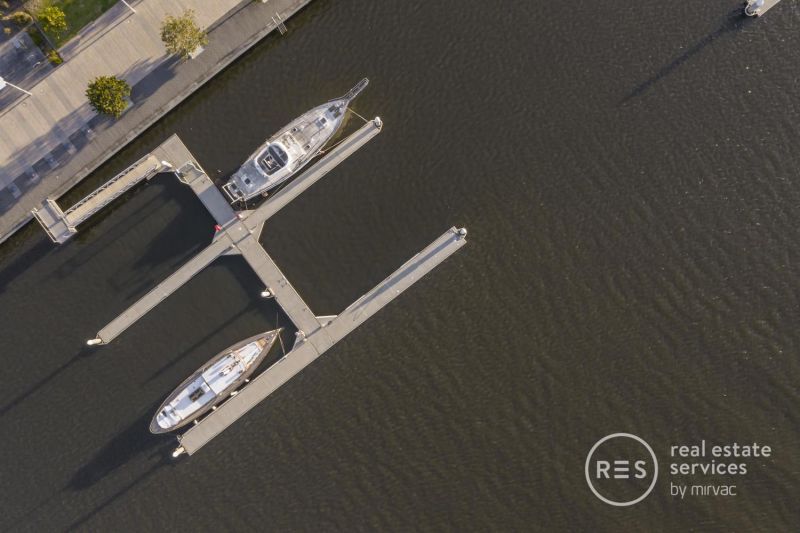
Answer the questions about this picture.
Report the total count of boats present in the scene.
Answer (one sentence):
Looking from above, you can make out 2 boats.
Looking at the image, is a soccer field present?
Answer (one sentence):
No, no soccer field is visible in the view.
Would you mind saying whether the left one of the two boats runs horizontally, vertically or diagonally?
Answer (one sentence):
What the image shows is the left one of the two boats lying diagonally.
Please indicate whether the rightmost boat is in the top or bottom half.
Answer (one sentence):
The rightmost boat is in the top half of the image.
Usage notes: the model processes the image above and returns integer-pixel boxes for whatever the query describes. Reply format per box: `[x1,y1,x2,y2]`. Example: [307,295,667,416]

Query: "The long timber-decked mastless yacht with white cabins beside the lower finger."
[150,329,284,434]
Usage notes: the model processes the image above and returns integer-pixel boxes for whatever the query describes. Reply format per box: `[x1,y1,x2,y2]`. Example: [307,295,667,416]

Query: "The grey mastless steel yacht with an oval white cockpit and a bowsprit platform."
[223,75,369,204]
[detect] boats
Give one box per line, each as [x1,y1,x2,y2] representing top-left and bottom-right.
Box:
[150,329,284,434]
[223,75,369,204]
